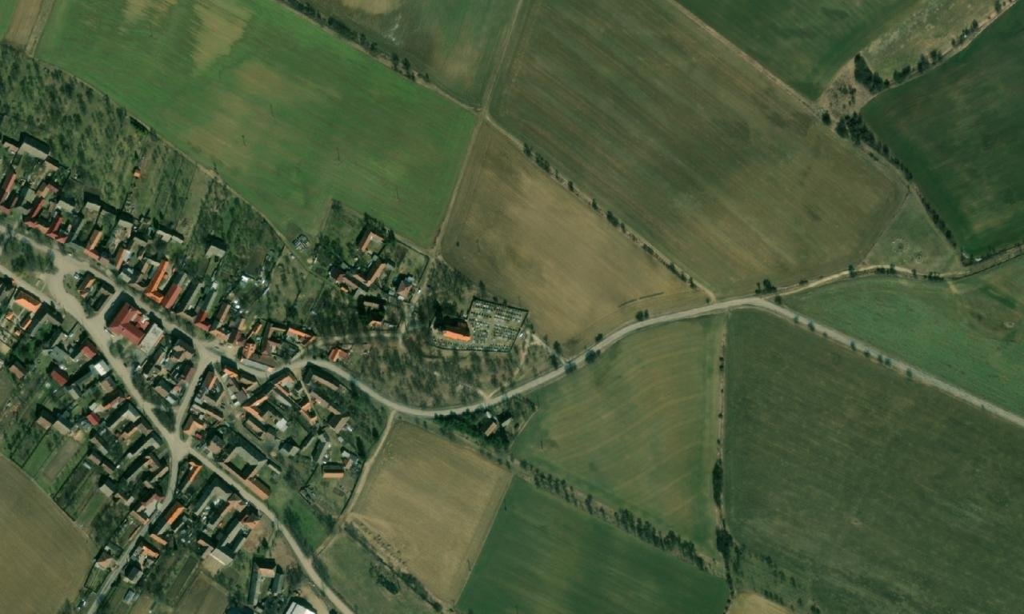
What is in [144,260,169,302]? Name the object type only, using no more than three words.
house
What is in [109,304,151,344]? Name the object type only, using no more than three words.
building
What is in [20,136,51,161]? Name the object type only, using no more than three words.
barn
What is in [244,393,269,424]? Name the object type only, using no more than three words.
house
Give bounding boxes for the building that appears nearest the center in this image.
[438,325,475,341]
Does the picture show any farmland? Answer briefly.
Yes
